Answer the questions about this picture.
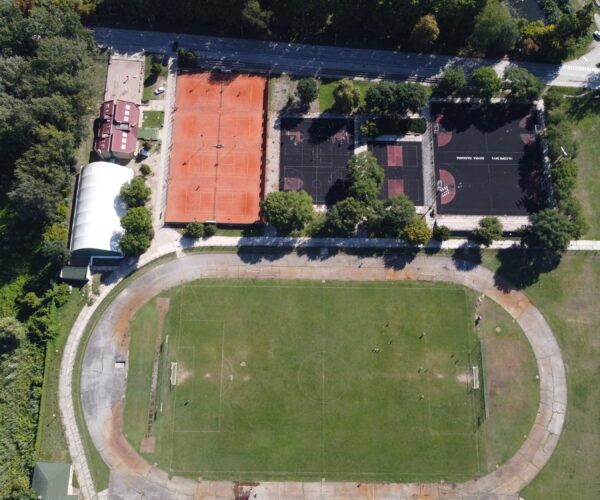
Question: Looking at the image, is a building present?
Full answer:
Yes, this view includes a building.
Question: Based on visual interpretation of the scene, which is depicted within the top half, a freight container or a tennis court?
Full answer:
The feature located within the top half is a tennis court.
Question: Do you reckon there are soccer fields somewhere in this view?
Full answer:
Yes, looking at the shot, I can spot a soccer field.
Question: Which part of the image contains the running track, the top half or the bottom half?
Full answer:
The running track is in the bottom half of the image.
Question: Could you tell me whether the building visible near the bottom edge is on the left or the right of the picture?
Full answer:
The building visible near the bottom edge appears in the left half of the scene.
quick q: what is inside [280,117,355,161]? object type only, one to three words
basketball court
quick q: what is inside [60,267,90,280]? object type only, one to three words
shed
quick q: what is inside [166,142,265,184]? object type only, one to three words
tennis court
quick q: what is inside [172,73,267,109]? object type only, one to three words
tennis court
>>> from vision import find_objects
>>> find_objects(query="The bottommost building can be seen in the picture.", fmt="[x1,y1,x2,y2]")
[29,462,78,500]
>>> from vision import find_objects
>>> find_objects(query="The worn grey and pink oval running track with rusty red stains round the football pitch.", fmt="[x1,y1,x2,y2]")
[81,252,567,500]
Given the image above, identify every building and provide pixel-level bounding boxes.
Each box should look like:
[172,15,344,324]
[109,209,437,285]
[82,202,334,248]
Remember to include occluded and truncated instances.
[29,462,78,500]
[69,162,134,256]
[96,101,141,157]
[60,267,90,280]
